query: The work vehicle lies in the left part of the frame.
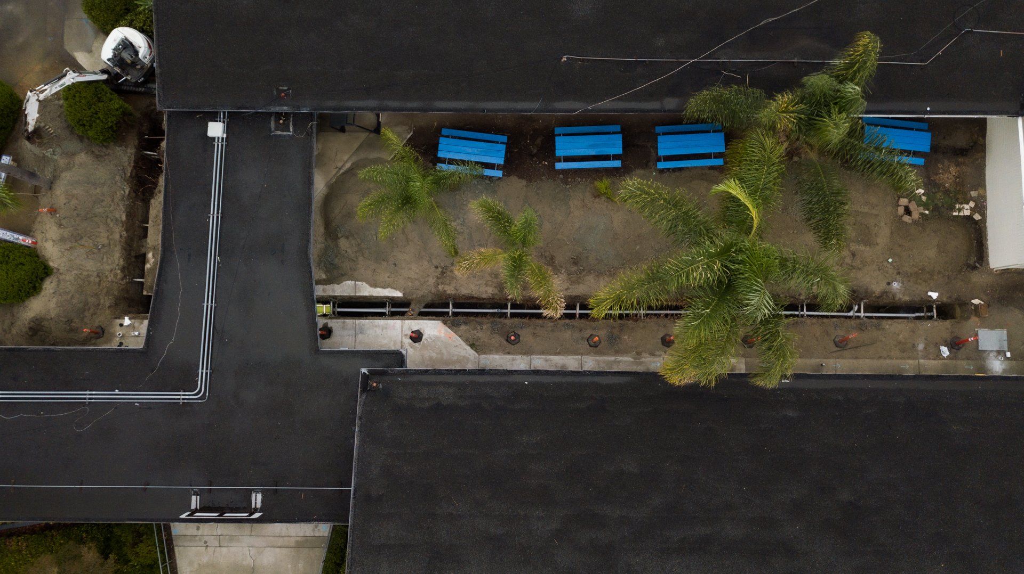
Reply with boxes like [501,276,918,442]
[23,27,156,141]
